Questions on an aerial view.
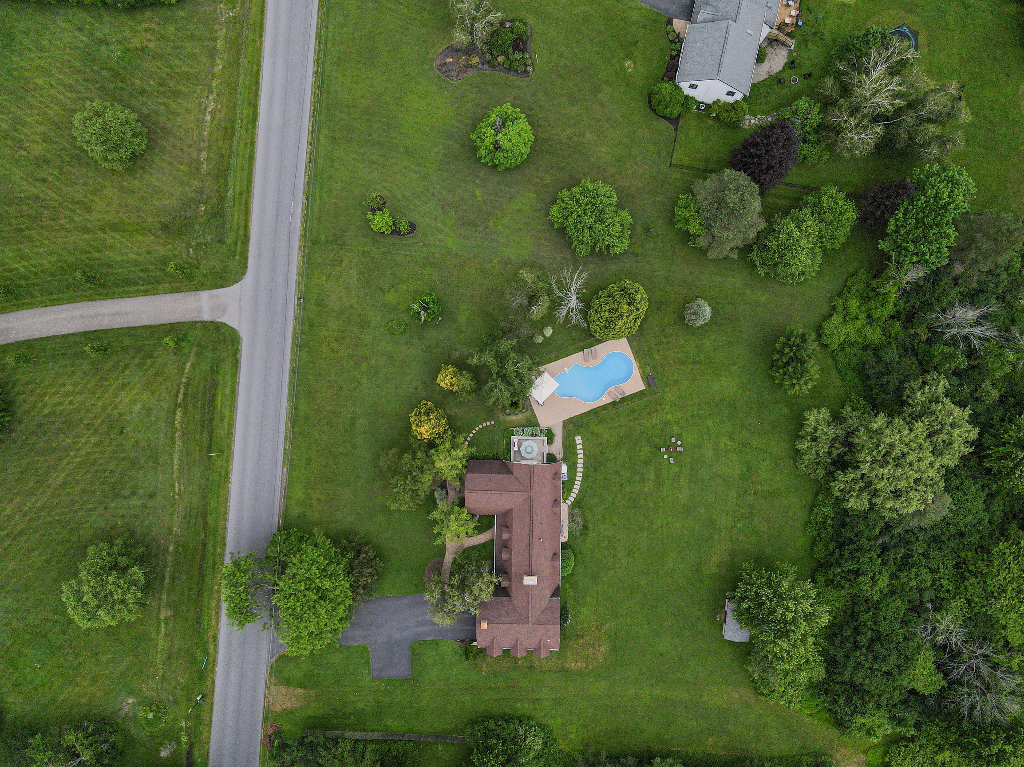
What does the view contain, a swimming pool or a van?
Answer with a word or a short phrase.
swimming pool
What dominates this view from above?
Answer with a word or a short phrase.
grass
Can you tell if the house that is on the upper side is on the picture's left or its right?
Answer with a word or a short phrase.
right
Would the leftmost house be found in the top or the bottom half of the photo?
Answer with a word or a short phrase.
bottom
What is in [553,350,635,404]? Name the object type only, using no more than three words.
swimming pool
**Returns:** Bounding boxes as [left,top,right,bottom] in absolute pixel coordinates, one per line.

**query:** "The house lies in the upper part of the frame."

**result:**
[675,0,780,104]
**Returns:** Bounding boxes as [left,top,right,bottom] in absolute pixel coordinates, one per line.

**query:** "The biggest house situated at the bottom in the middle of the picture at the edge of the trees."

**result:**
[465,460,563,658]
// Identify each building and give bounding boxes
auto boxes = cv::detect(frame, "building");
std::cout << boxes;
[675,0,780,104]
[717,605,752,648]
[465,460,563,658]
